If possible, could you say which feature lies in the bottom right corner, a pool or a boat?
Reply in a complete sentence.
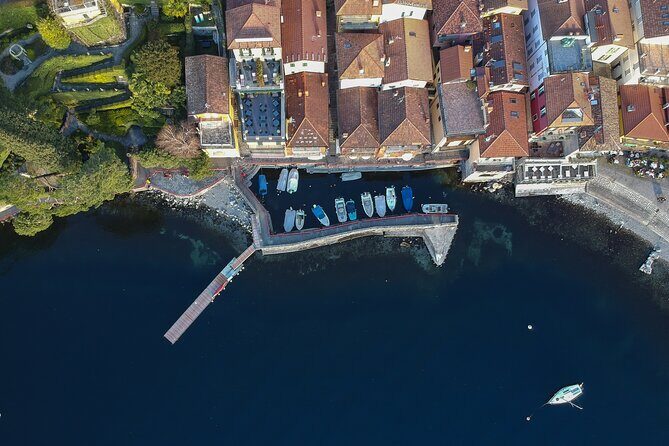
What appears in the bottom right corner is a boat.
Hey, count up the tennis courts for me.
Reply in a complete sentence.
Not a single tennis court can be seen.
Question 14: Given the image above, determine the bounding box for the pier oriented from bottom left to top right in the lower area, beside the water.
[165,246,257,343]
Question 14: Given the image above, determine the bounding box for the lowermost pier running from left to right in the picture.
[262,214,461,268]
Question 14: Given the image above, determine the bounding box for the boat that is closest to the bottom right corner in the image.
[548,383,583,407]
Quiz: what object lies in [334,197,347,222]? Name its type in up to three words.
boat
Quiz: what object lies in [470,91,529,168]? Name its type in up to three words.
house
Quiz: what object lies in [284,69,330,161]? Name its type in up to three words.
house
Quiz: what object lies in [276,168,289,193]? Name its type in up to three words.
boat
